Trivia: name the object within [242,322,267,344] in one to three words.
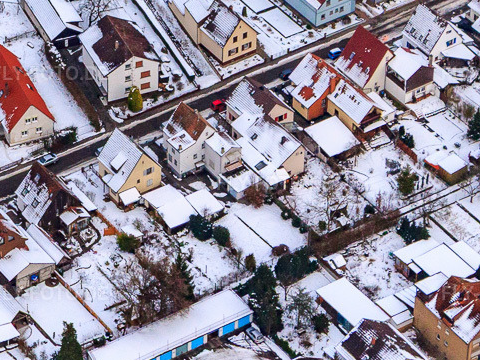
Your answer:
car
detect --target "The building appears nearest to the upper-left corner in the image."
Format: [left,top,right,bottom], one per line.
[24,0,84,48]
